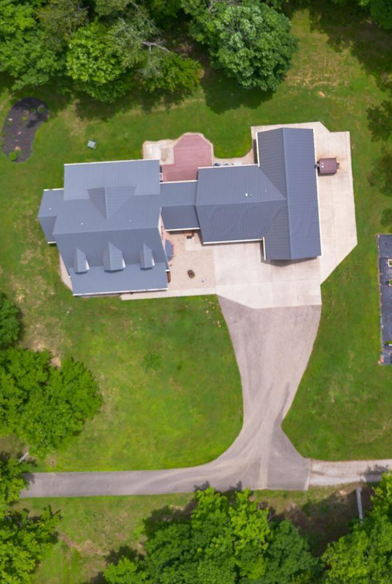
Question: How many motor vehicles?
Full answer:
The count of motor vehicles is 0.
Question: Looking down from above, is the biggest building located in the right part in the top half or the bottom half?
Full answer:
Seen from above, the biggest building located in the right part lies in the top half of the view.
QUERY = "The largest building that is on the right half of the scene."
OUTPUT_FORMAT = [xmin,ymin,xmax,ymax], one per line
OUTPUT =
[196,127,322,260]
